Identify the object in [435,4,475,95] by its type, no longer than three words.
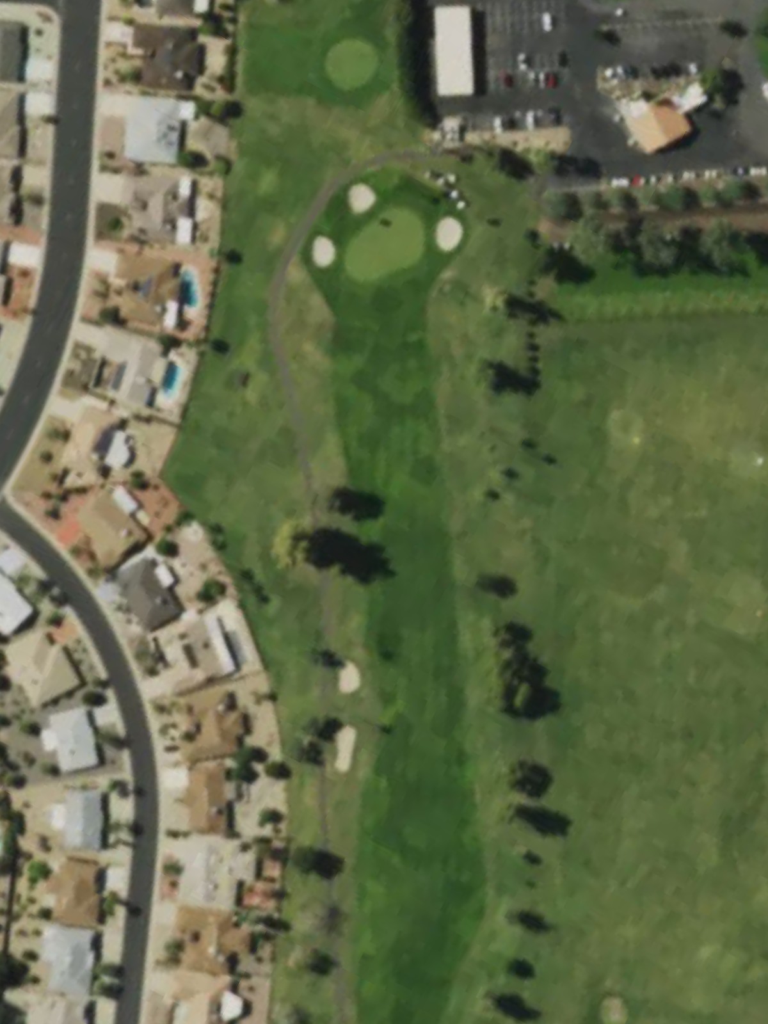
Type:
building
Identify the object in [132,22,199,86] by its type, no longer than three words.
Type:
house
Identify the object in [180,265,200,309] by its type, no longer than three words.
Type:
swimming pool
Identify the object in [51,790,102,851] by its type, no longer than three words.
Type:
house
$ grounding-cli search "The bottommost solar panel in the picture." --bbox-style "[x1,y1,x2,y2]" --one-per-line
[90,426,113,454]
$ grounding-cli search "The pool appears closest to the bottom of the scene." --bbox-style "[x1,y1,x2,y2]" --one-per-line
[161,359,183,399]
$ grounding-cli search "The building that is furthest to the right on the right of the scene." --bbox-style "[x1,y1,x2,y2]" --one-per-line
[625,83,707,154]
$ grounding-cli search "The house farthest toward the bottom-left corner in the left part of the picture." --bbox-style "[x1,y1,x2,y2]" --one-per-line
[27,996,88,1024]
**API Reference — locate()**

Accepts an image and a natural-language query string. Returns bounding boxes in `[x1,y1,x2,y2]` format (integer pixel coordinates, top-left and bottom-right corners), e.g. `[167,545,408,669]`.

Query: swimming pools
[180,265,200,309]
[161,359,183,399]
